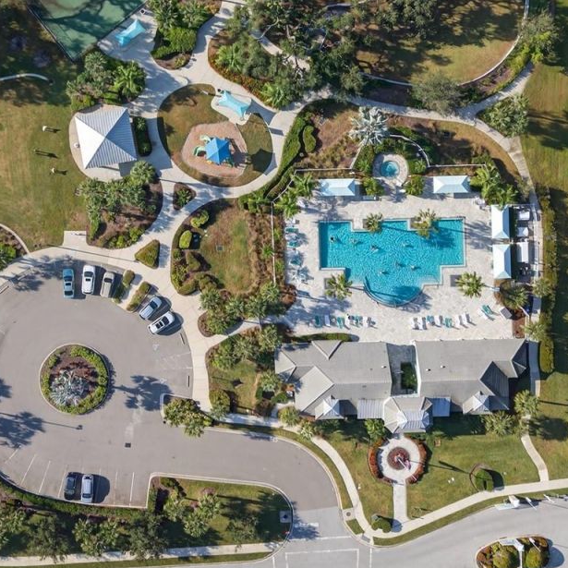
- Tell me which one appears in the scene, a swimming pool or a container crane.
swimming pool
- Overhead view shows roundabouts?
Yes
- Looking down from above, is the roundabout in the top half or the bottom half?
bottom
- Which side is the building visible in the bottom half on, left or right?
right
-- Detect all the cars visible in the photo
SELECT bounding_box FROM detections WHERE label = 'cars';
[61,267,75,298]
[63,469,79,501]
[80,264,96,297]
[80,471,95,505]
[147,309,178,336]
[100,268,115,299]
[137,294,167,322]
